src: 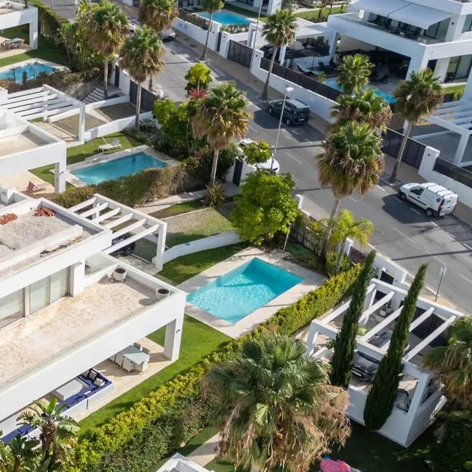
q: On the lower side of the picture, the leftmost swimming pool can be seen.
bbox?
[174,245,330,335]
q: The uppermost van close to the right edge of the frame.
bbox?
[393,179,454,216]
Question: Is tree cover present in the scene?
Yes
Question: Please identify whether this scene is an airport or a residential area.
residential area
